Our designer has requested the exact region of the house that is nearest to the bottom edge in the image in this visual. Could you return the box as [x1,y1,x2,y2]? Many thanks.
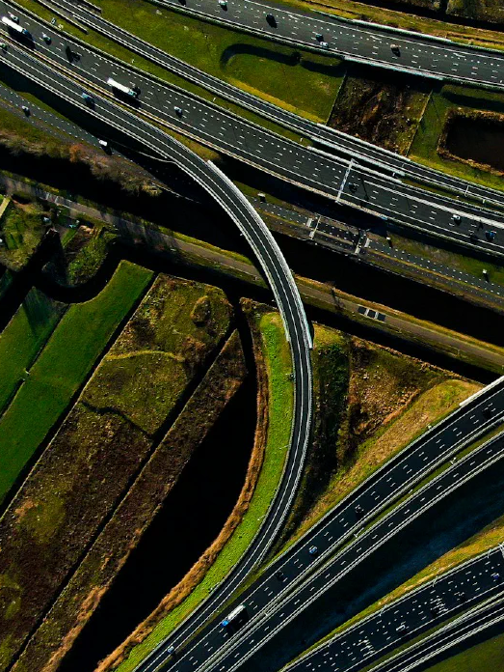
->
[40,229,62,256]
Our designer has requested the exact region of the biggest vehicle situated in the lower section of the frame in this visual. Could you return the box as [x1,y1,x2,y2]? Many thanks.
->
[220,603,247,627]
